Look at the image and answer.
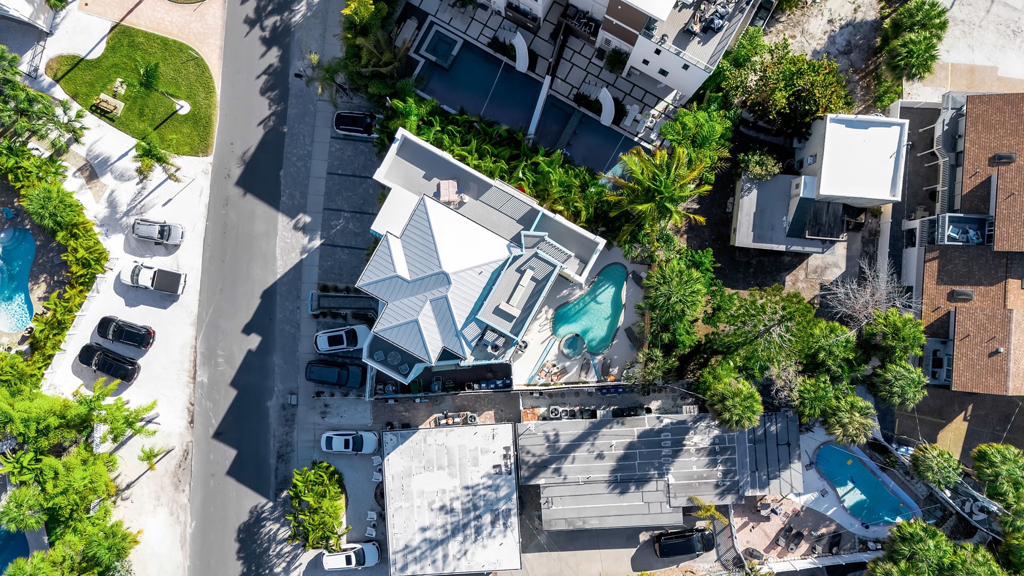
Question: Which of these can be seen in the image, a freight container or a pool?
pool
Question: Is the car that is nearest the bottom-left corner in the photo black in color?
Yes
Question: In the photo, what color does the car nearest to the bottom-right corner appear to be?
black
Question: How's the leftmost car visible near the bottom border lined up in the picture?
horizontally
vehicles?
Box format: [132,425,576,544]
[331,110,388,136]
[127,219,186,246]
[96,316,157,350]
[651,532,712,563]
[323,543,381,572]
[312,325,371,354]
[323,431,381,458]
[79,344,142,382]
[306,361,367,391]
[118,262,191,297]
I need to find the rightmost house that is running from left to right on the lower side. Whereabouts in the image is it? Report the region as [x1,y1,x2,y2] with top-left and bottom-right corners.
[518,406,802,531]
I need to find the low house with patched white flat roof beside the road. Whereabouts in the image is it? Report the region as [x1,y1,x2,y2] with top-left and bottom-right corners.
[383,422,521,576]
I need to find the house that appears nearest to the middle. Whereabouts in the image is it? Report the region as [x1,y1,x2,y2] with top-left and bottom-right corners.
[355,128,607,385]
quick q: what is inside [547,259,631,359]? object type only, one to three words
swimming pool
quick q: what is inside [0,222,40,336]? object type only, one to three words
swimming pool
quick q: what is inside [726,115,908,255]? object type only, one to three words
house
